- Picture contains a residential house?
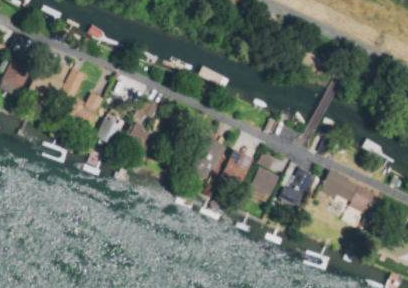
Yes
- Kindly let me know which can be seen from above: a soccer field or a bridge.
bridge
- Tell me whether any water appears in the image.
Yes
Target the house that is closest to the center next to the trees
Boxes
[193,134,228,180]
